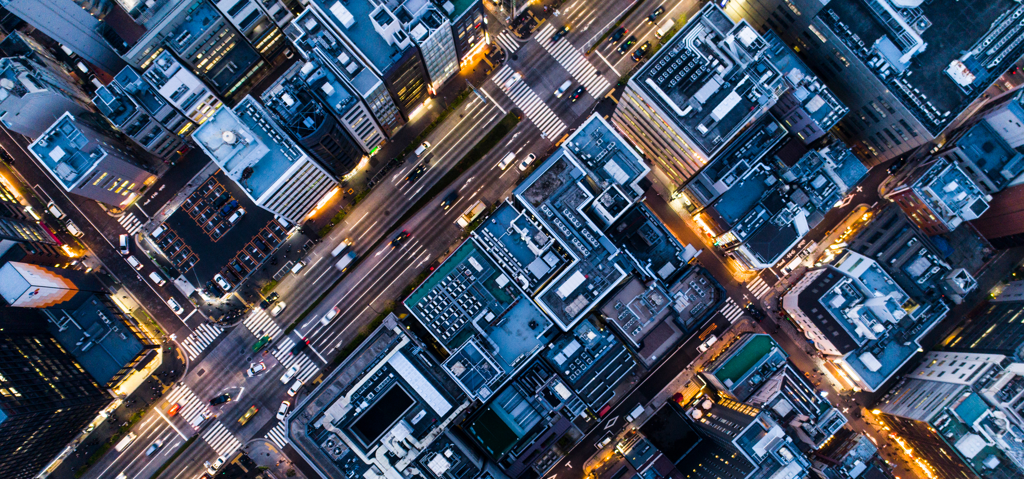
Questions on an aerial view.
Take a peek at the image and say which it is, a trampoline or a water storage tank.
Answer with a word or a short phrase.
water storage tank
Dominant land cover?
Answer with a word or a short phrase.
buildings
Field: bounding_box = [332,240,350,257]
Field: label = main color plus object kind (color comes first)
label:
white car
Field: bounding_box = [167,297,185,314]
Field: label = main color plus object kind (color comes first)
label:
white car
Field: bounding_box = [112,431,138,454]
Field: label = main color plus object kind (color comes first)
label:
white vehicle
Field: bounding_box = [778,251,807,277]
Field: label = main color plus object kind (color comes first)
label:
white truck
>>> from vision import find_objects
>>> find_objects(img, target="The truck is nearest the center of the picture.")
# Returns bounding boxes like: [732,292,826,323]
[458,200,485,227]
